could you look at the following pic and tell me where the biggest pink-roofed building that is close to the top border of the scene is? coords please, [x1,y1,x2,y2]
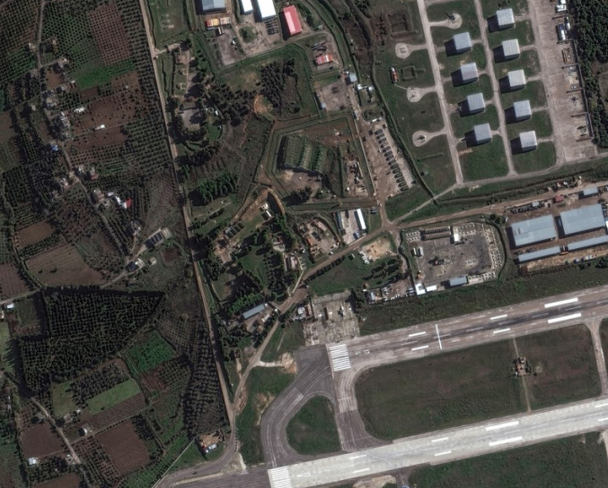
[283,5,302,38]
